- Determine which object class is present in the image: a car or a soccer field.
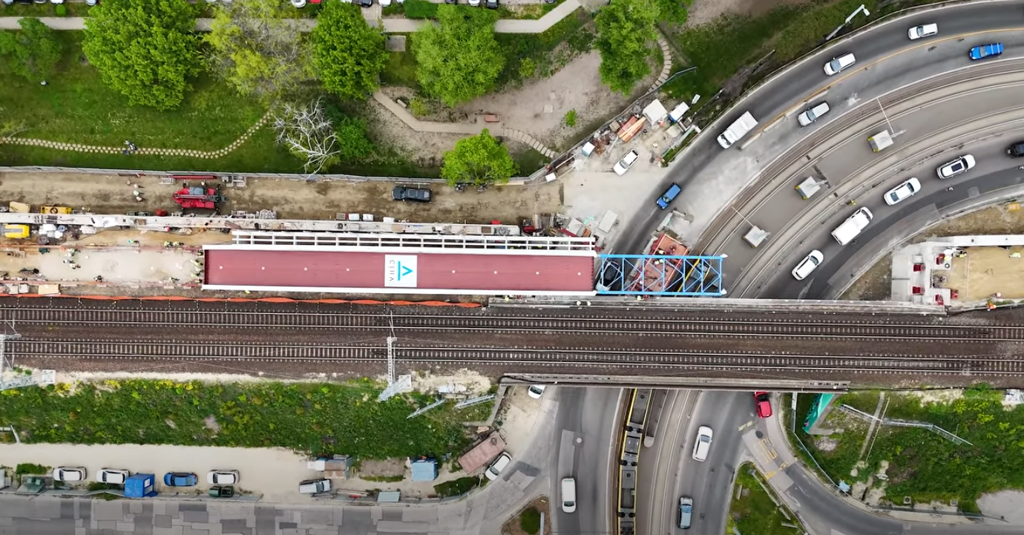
car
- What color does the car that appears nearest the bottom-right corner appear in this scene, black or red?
red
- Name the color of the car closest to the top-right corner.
blue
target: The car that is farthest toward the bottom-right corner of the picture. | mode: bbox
[752,392,772,421]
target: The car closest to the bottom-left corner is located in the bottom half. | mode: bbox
[55,464,88,482]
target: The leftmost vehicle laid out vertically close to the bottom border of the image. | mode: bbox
[560,475,577,511]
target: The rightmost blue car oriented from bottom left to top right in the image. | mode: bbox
[655,181,682,210]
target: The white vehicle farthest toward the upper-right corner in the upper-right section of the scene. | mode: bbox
[902,21,941,42]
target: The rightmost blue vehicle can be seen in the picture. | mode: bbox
[966,41,1005,61]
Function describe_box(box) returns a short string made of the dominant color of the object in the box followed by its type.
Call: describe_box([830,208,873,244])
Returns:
white van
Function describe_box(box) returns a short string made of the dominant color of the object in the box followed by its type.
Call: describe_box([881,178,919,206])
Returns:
white car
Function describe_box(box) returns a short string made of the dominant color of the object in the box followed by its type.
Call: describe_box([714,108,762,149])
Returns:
white truck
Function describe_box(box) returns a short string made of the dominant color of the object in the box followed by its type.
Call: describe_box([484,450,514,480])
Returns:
white car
